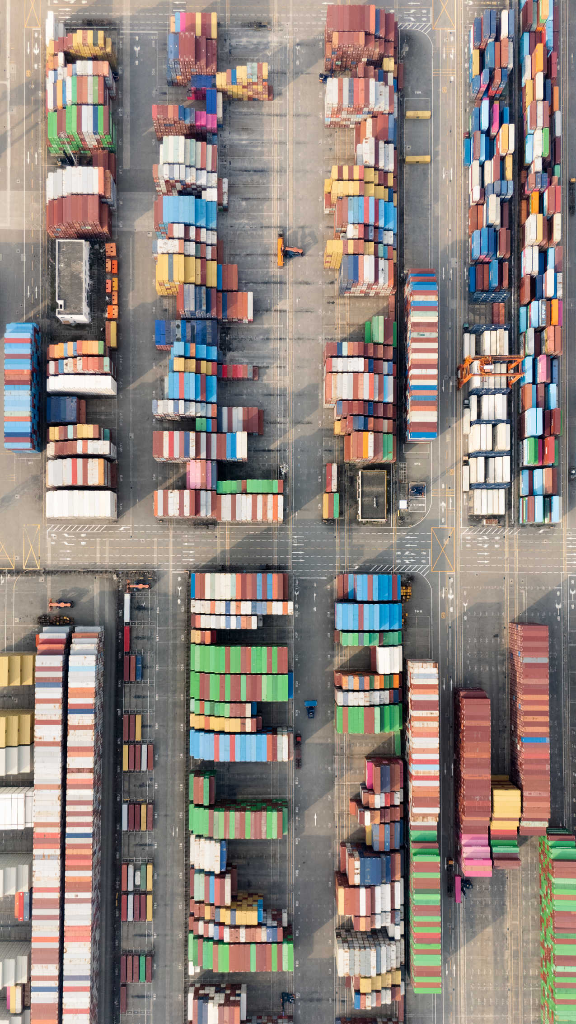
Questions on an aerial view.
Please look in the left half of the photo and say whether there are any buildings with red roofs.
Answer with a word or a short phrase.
No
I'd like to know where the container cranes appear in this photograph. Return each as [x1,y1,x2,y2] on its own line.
[457,354,528,391]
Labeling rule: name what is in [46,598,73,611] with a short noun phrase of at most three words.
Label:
vehicle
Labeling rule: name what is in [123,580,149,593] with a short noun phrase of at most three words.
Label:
vehicle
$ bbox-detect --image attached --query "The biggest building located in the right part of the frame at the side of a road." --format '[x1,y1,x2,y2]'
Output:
[358,471,387,521]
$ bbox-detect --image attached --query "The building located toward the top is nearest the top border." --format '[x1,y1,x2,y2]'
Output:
[56,240,91,323]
